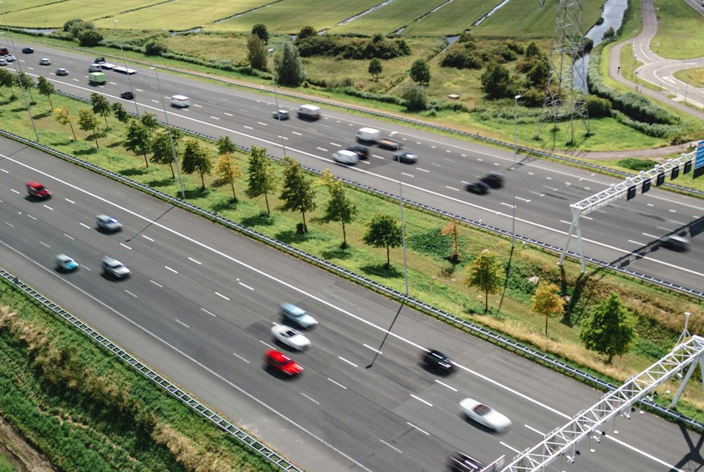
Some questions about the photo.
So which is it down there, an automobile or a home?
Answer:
automobile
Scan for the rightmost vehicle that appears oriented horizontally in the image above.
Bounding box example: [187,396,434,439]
[659,236,693,252]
